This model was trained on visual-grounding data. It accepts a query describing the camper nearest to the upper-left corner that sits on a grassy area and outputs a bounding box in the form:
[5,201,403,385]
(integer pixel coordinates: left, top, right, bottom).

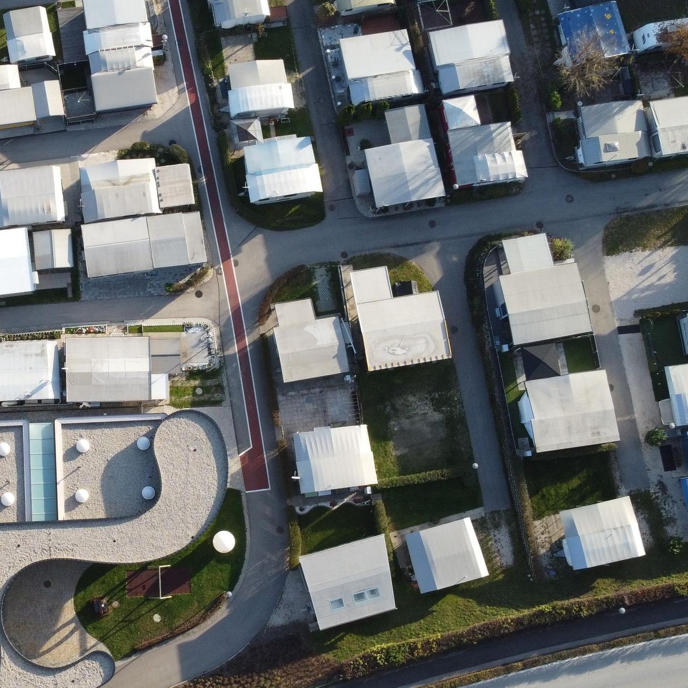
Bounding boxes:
[5,8,55,69]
